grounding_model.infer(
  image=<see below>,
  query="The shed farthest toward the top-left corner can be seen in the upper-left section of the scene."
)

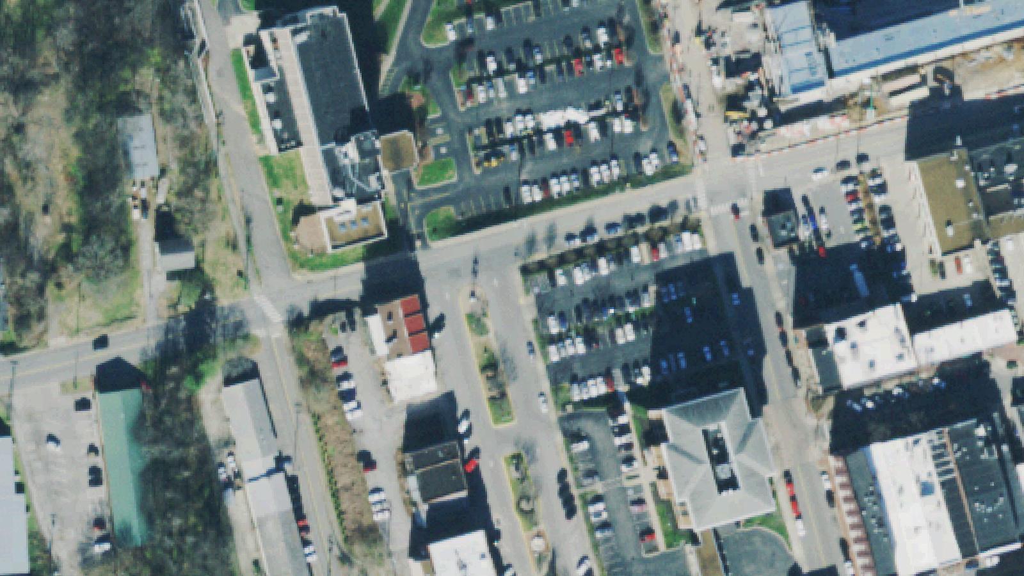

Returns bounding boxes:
[118,115,158,179]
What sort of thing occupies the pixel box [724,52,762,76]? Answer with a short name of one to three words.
shed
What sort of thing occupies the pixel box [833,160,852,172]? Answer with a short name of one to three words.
vehicle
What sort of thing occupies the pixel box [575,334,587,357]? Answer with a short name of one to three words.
vehicle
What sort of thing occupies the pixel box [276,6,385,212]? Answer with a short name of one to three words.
building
